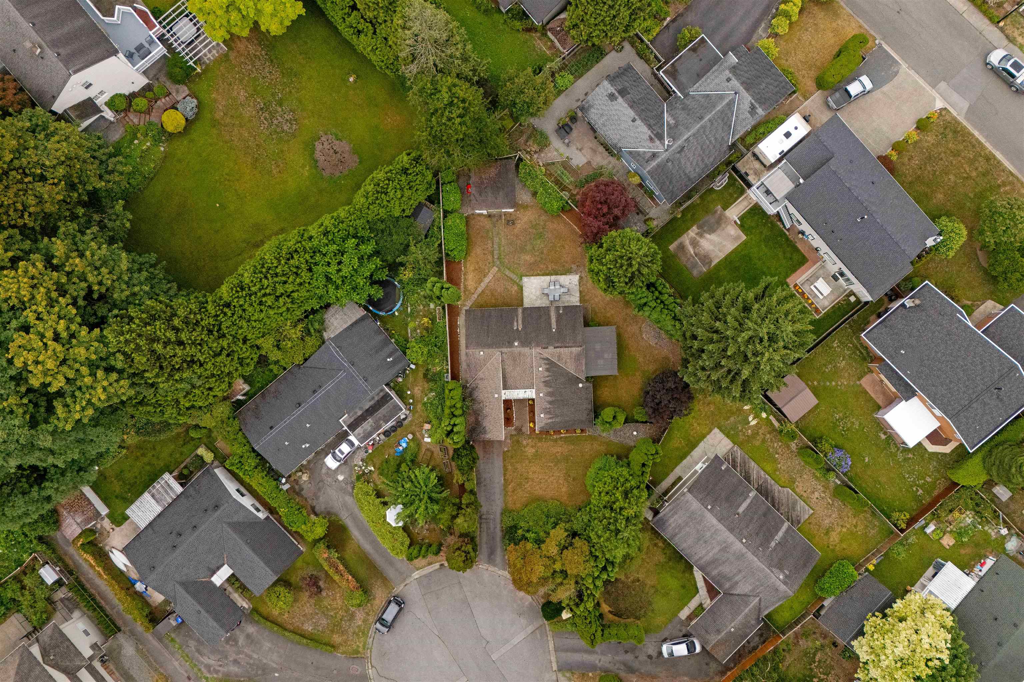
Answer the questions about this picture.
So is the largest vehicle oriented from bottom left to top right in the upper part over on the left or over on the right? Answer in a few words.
right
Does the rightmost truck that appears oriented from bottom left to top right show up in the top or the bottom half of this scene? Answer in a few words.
top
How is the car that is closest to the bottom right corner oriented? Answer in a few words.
from left to right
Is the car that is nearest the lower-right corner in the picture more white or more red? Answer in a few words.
white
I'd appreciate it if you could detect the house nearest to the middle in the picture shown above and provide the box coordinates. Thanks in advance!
[465,304,594,441]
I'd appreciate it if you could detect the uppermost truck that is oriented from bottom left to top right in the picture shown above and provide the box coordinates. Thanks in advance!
[828,72,877,109]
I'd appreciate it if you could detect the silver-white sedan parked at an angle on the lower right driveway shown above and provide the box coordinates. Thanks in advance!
[662,638,705,660]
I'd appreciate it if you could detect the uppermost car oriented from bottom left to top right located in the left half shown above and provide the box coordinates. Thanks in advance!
[322,434,359,471]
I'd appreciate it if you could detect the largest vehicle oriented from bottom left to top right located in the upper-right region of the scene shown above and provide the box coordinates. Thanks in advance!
[745,109,813,174]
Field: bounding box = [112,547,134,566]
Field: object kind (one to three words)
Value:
boat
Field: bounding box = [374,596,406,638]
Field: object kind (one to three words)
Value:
car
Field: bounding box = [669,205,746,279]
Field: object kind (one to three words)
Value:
sports court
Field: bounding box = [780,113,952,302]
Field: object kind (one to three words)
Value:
house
